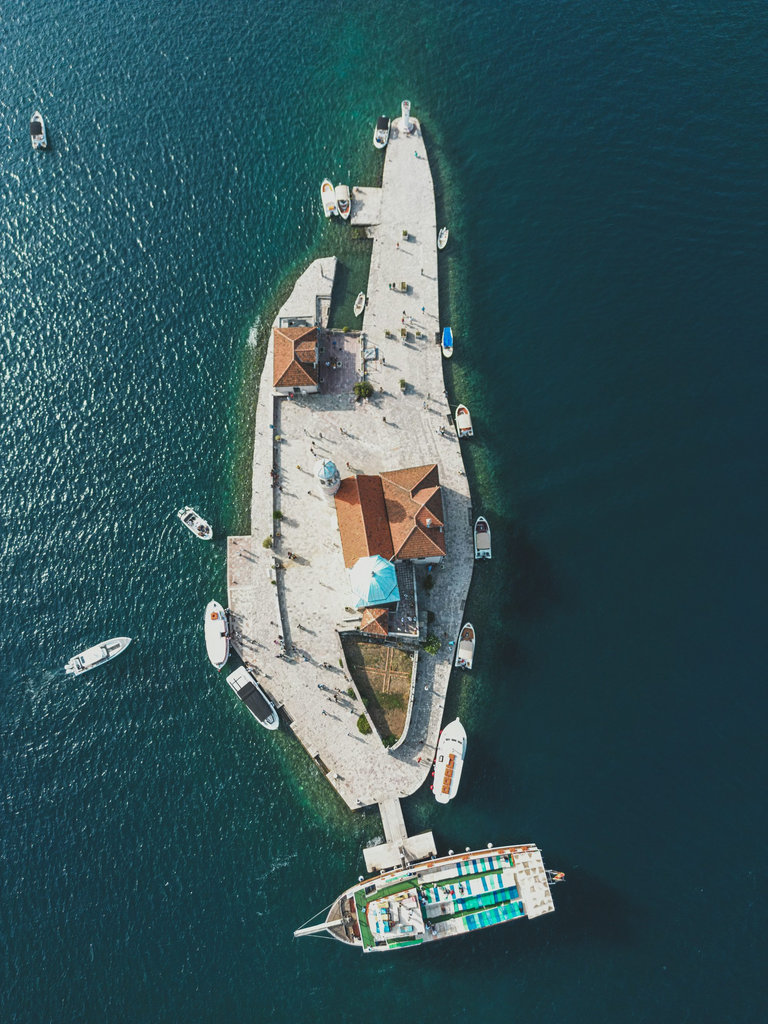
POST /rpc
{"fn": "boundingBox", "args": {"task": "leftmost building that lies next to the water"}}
[273,326,317,393]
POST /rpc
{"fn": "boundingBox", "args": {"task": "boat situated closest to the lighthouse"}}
[375,112,391,150]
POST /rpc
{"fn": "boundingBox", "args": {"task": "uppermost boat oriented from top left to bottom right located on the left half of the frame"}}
[176,508,213,539]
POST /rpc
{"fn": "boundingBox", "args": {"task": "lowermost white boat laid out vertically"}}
[432,716,466,803]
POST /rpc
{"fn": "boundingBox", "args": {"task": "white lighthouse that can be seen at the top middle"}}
[397,100,414,140]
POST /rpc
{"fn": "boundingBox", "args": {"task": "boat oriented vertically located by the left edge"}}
[29,108,47,153]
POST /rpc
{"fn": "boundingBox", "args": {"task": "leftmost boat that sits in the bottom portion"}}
[66,639,132,676]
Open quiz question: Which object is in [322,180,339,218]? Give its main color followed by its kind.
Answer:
white boat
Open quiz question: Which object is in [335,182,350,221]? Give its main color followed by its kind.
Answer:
white boat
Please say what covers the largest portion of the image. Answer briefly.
water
